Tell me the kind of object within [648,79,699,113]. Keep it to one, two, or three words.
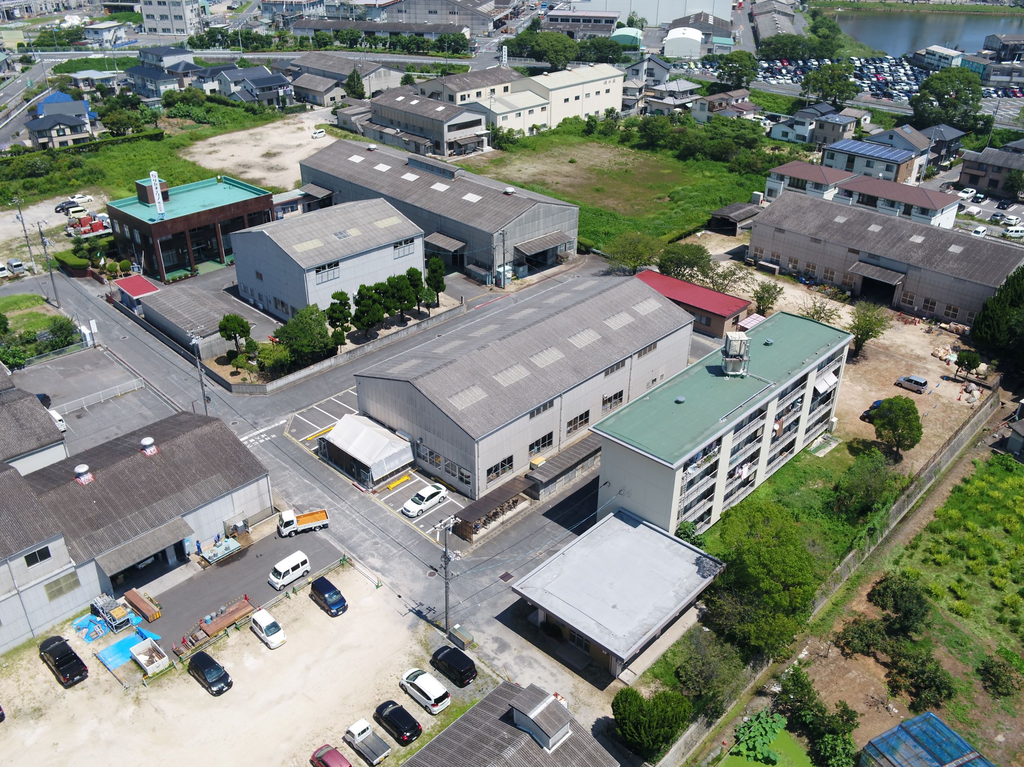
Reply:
house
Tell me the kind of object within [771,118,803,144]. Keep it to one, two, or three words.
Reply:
house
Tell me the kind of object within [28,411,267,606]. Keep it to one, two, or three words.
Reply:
shed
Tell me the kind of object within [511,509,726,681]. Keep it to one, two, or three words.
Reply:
building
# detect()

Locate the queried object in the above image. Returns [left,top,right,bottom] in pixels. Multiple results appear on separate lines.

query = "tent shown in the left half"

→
[321,415,414,486]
